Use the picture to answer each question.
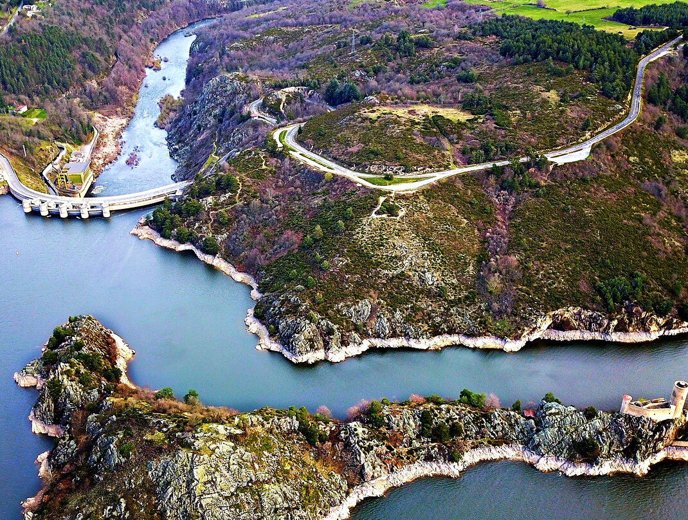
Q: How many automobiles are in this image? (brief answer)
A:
0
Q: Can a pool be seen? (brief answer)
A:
No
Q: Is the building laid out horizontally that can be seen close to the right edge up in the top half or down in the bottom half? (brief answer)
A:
bottom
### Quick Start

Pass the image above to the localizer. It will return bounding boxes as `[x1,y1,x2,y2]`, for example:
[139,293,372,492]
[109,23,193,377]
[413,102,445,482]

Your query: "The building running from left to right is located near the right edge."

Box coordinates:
[628,400,677,420]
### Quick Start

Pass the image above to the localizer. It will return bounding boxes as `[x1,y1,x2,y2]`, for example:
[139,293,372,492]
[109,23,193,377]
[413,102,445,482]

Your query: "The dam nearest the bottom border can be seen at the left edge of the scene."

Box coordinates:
[6,180,194,218]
